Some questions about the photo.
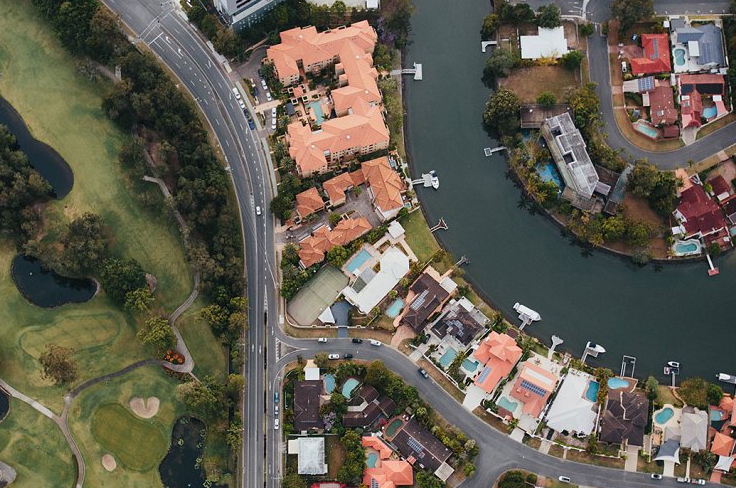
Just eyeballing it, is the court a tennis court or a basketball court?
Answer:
tennis court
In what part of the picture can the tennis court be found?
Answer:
center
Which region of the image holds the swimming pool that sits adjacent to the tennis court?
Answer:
center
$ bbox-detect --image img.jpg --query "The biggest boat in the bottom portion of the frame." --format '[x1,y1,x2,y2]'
[513,302,541,319]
